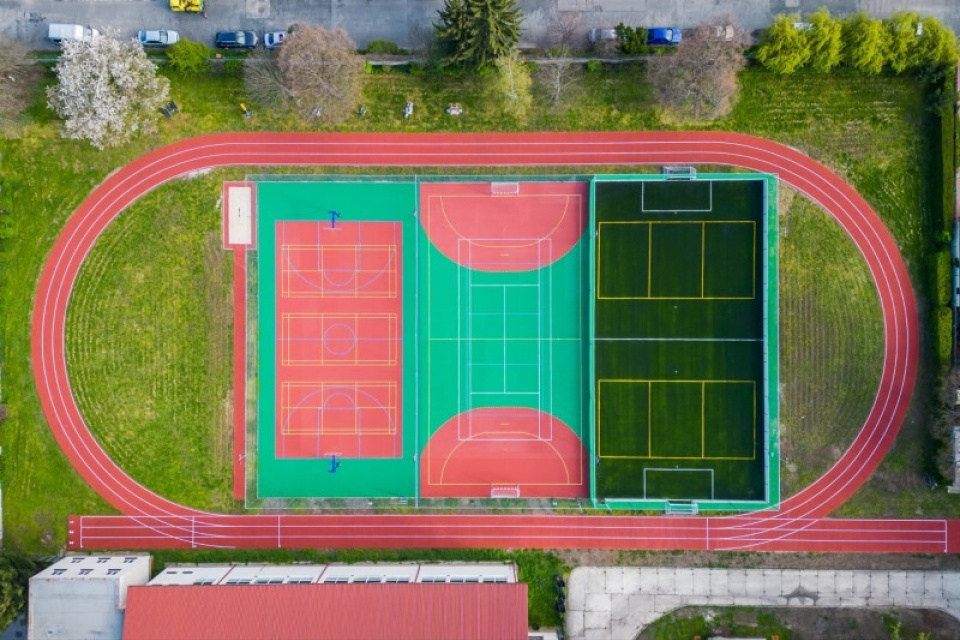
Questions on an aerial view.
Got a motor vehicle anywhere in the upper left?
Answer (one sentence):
Yes, there is a motor vehicle in the upper left.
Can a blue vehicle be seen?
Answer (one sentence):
Yes, there is a blue vehicle in the image.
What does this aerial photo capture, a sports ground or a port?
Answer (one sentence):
This image shows a sports ground.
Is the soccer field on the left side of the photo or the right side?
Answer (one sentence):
The soccer field is on the right side of the image.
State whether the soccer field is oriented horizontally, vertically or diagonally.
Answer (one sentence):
The soccer field runs vertically in the image.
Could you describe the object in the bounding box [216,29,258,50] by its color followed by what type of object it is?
blue car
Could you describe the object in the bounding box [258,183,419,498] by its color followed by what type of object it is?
red basketball court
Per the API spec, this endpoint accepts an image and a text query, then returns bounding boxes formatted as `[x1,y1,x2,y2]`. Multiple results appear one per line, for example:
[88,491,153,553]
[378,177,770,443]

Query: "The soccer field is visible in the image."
[590,171,763,510]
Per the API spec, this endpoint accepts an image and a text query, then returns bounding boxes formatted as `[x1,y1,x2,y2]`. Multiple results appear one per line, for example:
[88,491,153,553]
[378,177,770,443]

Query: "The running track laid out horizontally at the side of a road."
[32,132,960,554]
